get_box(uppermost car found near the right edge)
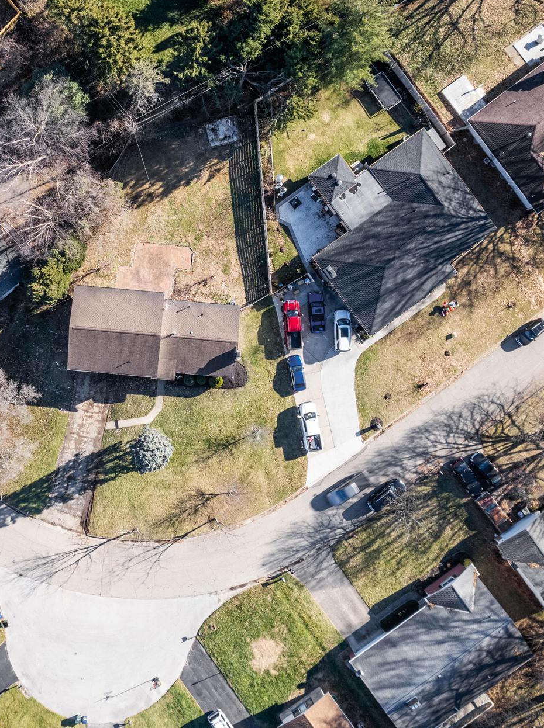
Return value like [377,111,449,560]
[510,316,544,349]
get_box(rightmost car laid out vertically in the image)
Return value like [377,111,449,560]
[332,308,353,352]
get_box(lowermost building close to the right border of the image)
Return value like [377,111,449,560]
[349,559,533,728]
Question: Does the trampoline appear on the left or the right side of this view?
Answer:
right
